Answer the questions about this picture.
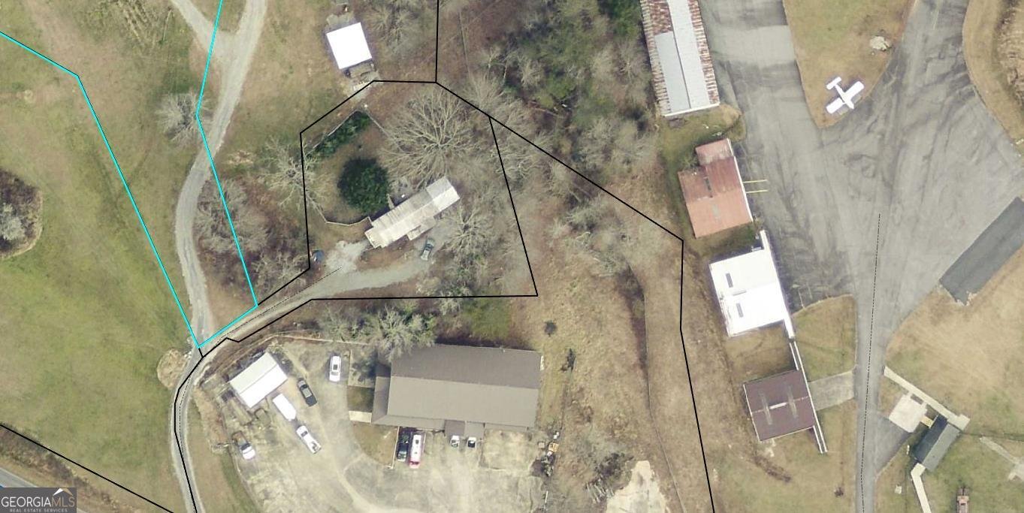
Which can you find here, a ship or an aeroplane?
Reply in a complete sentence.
Of the two, only an aeroplane appears.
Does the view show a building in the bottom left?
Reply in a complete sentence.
Yes, a building appears in the bottom left.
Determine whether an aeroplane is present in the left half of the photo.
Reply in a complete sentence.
No, there is no aeroplane in the left half of the photo.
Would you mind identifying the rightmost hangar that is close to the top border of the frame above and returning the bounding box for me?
[639,0,720,117]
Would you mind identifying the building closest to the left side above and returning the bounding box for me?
[230,353,287,408]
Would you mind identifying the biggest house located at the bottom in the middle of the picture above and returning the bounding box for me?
[372,344,542,439]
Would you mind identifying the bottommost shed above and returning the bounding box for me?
[910,416,959,470]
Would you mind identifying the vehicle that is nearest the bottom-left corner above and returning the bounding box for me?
[232,429,256,462]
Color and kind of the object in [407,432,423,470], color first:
white camper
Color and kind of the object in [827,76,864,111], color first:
white airplane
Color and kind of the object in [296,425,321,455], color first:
white truck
